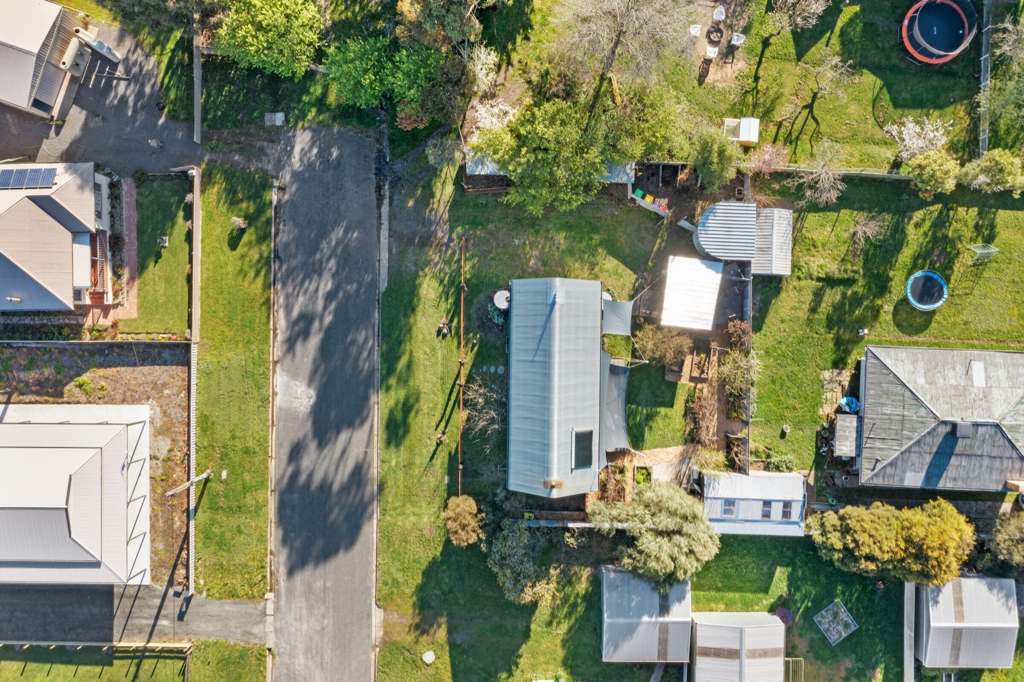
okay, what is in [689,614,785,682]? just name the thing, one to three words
building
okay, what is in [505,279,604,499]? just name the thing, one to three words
house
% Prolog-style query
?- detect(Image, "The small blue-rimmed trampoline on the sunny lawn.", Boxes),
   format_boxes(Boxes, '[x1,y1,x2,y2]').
[900,269,948,312]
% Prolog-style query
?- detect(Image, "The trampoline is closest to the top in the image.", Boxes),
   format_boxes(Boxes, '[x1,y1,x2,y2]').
[891,0,979,72]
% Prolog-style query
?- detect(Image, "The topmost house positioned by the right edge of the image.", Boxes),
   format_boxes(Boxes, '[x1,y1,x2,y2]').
[833,345,1024,495]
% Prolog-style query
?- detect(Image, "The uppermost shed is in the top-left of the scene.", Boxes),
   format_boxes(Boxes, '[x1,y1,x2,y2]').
[0,0,82,115]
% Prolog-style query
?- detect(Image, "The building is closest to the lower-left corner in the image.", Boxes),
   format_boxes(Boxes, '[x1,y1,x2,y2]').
[0,405,149,584]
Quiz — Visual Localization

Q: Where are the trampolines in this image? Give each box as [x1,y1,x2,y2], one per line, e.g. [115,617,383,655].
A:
[891,0,979,72]
[900,269,948,312]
